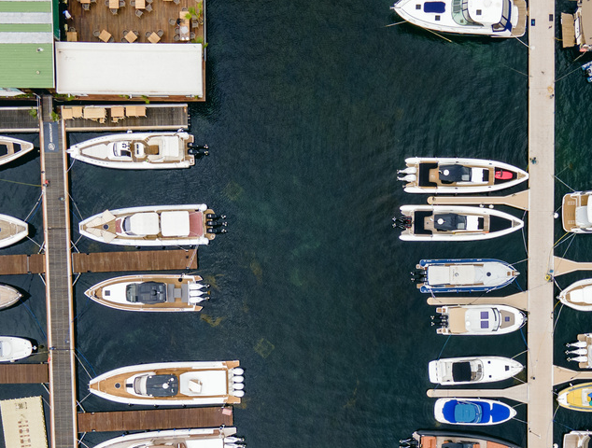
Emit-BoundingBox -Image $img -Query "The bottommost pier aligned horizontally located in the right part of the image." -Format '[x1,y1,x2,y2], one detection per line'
[427,384,529,403]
